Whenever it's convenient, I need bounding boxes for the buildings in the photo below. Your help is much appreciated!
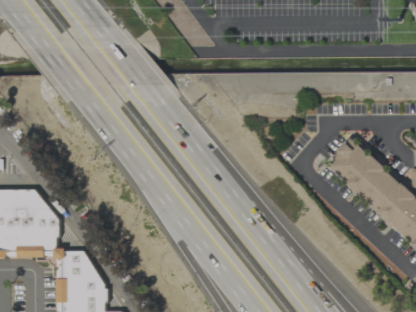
[330,140,416,252]
[0,190,110,312]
